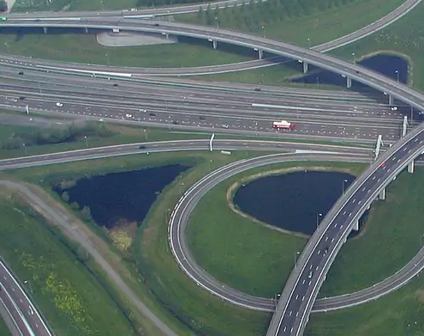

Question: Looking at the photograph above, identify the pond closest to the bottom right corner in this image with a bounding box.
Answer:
[233,170,364,235]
